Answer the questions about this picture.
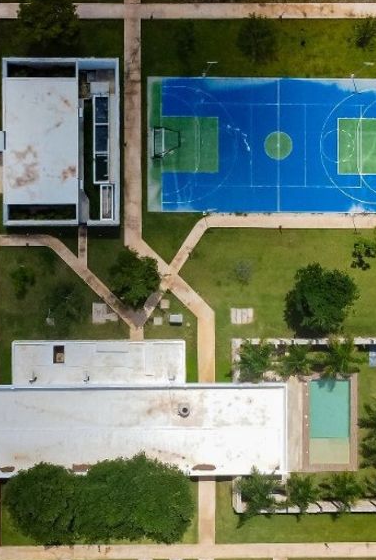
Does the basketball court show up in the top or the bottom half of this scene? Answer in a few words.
top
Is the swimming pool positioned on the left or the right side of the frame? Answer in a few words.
right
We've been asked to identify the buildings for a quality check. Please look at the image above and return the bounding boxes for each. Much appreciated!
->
[0,58,119,227]
[0,339,287,478]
